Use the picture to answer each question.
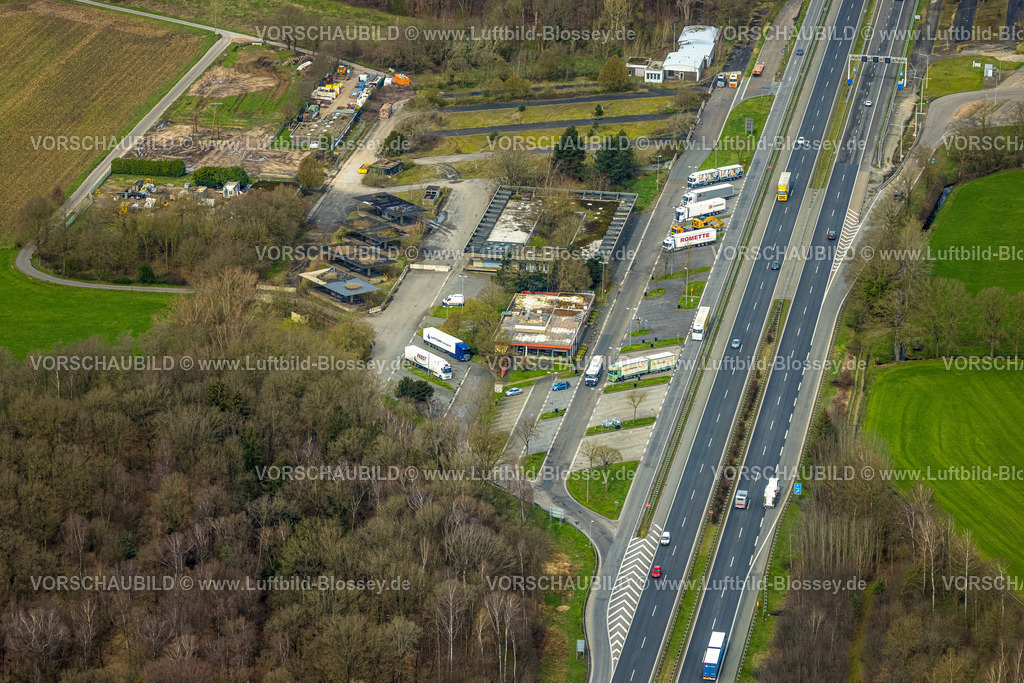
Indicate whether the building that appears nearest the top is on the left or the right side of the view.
right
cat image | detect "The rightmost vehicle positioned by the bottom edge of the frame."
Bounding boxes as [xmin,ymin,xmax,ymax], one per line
[698,633,722,680]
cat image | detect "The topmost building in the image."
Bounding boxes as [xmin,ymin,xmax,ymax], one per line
[625,25,718,83]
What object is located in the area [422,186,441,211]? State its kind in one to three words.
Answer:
building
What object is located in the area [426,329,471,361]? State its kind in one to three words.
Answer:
truck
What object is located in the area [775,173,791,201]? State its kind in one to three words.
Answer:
vehicle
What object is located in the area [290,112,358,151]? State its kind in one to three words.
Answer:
building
